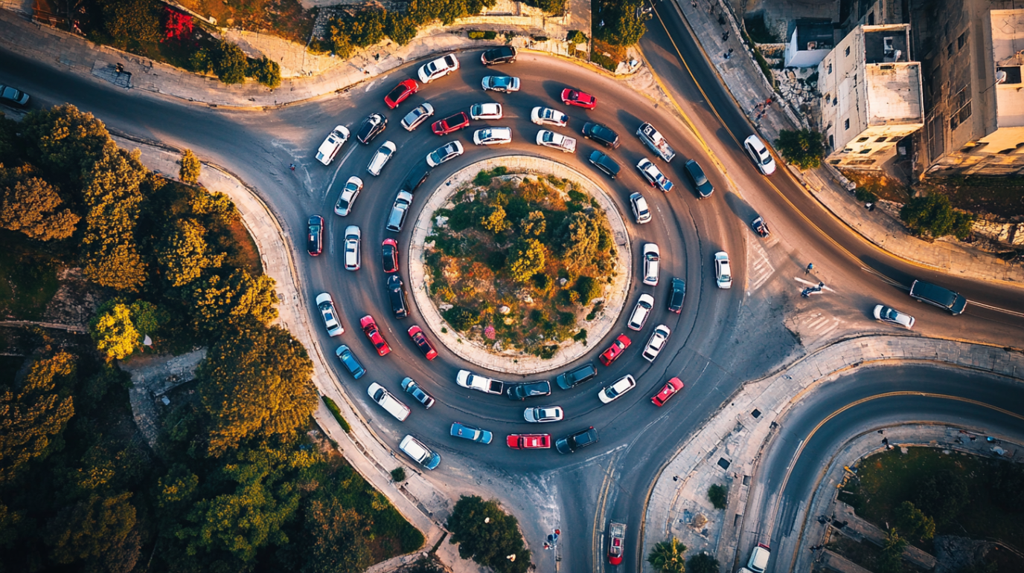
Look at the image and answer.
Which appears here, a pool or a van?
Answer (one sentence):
Visible in the photo is a van.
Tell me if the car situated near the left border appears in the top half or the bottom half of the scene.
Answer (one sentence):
The car situated near the left border is in the top half of the image.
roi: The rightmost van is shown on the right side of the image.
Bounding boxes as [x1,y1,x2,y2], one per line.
[906,280,967,313]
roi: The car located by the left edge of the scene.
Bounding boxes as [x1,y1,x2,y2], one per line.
[0,82,33,107]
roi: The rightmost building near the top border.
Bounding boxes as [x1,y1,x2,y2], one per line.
[921,0,1024,169]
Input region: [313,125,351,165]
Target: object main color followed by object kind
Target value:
white van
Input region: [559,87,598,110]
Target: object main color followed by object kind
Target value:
red car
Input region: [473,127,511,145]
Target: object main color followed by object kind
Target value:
white vehicle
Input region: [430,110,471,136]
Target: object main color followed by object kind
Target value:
red truck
